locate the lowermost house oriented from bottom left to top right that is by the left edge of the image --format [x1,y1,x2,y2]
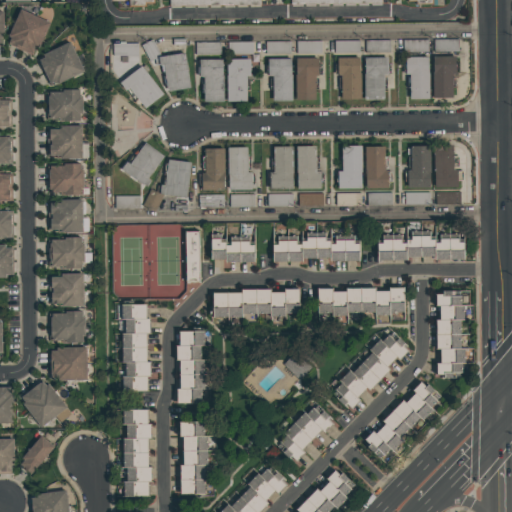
[22,436,55,474]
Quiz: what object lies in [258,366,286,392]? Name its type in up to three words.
swimming pool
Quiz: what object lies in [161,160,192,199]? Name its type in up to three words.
building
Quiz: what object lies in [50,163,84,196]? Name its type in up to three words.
house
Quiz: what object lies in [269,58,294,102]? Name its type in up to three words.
building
